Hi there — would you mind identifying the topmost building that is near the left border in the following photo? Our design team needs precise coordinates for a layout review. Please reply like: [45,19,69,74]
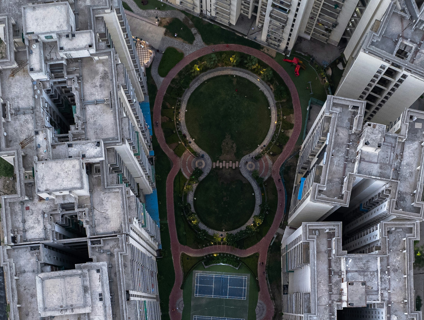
[0,0,165,260]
